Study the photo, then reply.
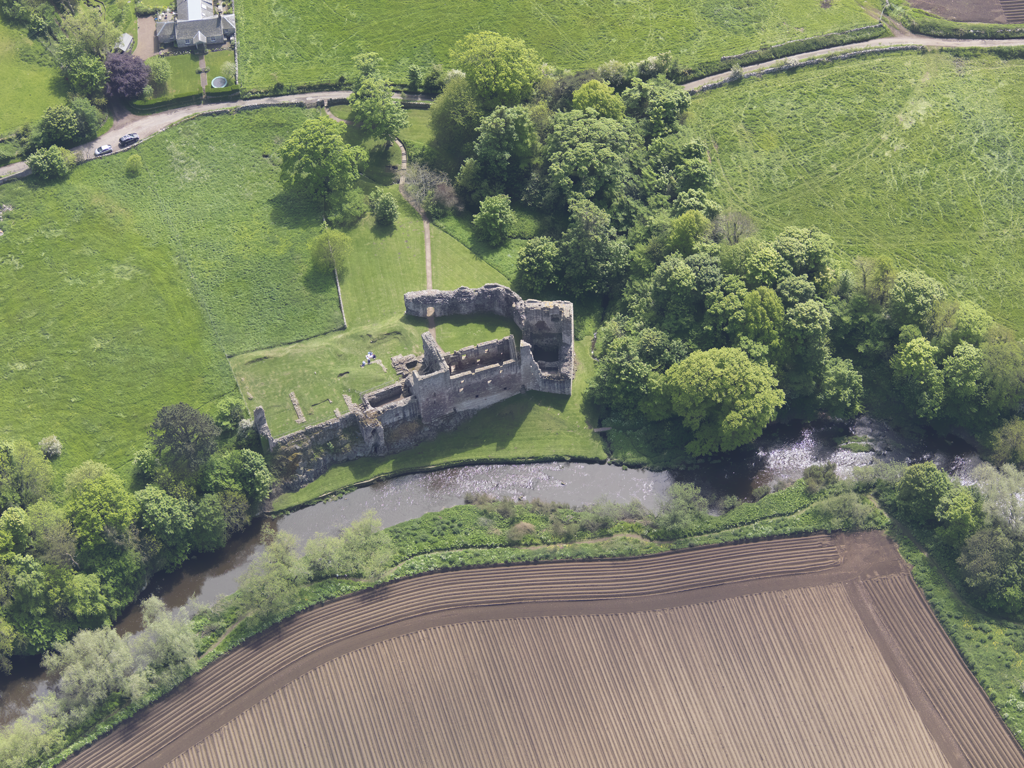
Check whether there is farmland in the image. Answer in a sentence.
Yes, there's farmland in this view.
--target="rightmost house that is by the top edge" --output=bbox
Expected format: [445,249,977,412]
[156,0,237,57]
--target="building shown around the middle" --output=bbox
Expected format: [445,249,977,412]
[254,277,574,457]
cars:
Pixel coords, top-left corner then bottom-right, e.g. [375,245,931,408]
[118,132,140,145]
[94,143,113,153]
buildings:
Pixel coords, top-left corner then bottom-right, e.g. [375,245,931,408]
[254,277,574,457]
[156,0,237,57]
[114,29,132,51]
